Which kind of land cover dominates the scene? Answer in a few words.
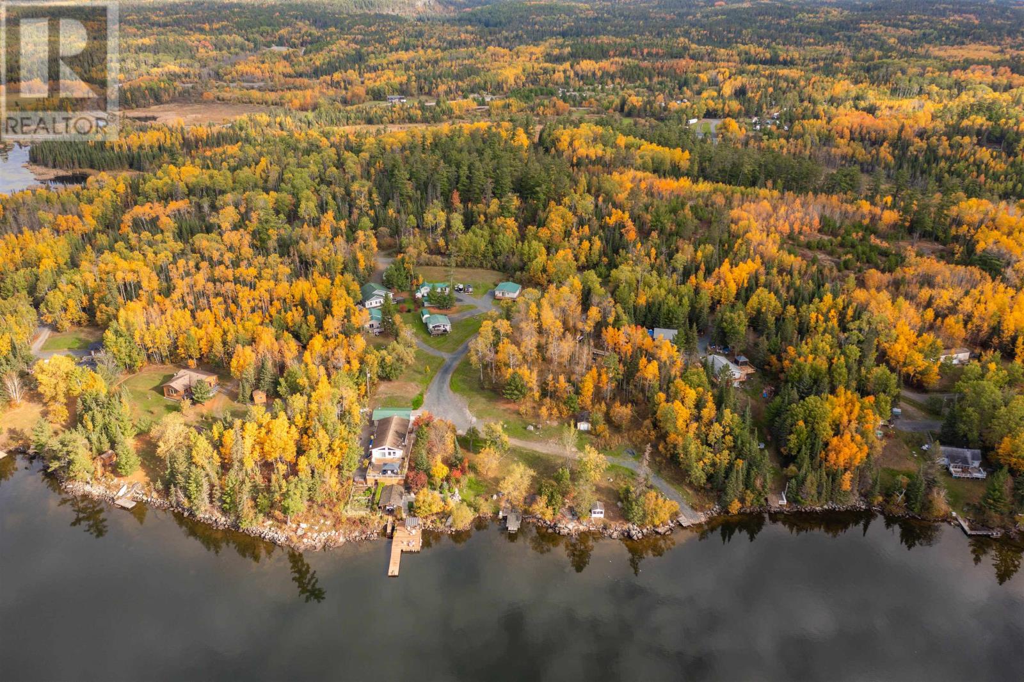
trees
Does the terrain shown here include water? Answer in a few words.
Yes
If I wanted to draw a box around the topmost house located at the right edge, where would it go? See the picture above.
[933,345,975,365]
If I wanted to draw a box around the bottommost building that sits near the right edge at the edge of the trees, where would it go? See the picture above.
[923,435,988,485]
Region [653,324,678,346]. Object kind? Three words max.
building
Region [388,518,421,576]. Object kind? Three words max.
pier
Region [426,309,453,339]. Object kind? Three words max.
building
